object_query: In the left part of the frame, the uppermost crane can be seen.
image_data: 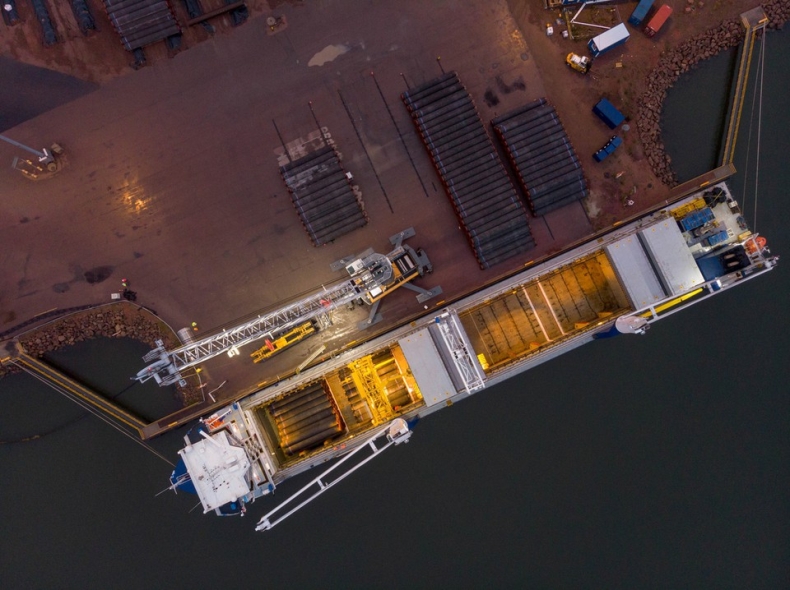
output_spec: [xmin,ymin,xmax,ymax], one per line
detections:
[134,228,442,389]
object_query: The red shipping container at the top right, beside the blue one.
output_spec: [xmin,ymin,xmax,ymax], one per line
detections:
[643,4,671,37]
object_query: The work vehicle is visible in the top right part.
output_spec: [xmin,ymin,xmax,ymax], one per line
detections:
[565,53,592,76]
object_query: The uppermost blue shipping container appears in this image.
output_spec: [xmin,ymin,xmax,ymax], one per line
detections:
[626,0,653,29]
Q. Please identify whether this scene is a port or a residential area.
port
